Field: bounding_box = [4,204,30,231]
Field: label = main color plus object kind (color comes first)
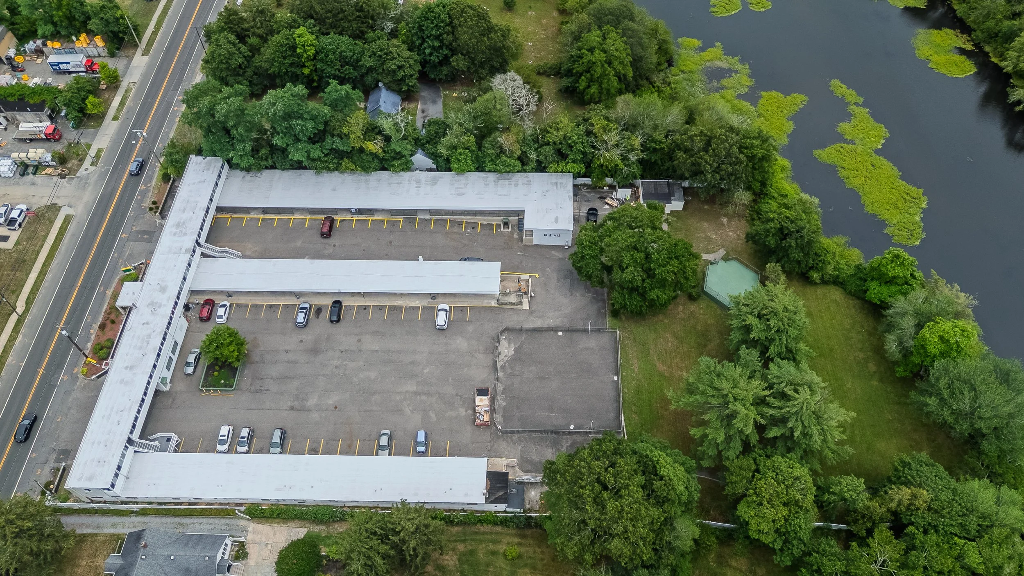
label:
white truck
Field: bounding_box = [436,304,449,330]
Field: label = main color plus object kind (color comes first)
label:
white vehicle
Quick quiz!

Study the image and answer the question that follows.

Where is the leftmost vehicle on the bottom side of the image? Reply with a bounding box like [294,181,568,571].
[15,413,38,443]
